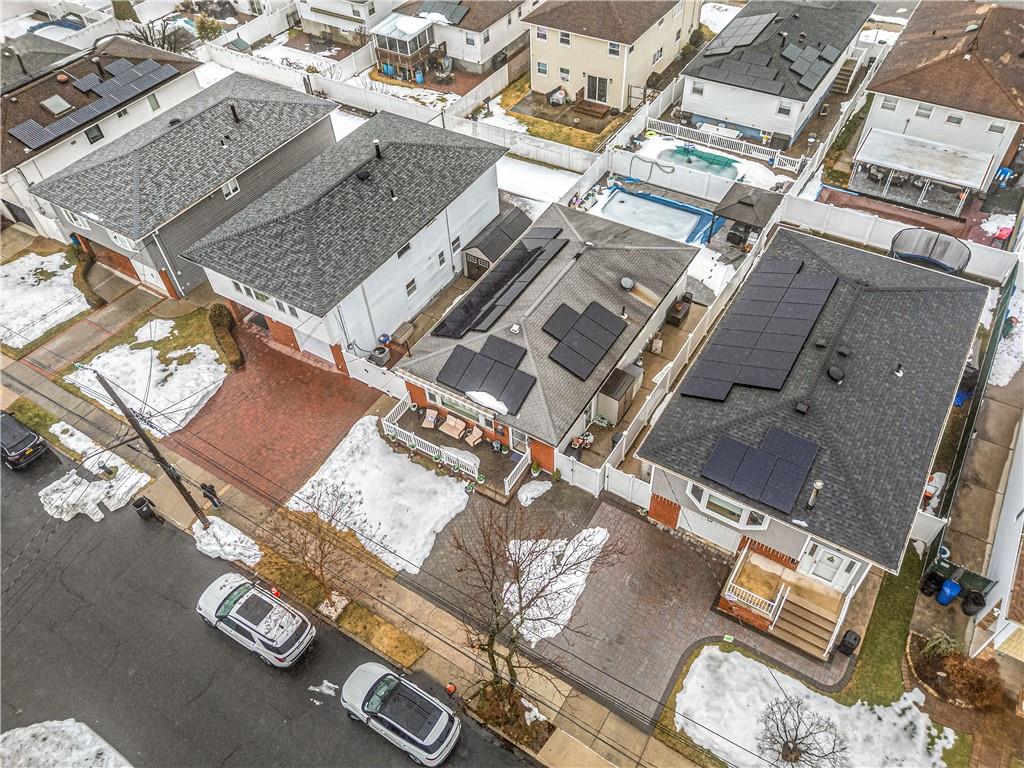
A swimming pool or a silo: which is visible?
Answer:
swimming pool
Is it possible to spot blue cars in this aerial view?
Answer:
No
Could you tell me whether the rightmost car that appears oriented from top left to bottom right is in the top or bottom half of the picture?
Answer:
bottom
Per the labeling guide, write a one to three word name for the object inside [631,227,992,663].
house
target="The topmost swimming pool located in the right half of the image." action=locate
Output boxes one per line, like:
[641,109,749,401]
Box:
[643,145,749,184]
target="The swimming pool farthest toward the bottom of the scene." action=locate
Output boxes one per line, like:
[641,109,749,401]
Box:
[593,182,735,248]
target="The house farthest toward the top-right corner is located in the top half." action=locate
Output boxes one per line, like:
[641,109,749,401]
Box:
[857,0,1024,164]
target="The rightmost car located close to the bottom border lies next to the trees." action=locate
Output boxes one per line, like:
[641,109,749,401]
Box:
[335,658,467,768]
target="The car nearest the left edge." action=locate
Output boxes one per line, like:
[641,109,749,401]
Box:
[0,400,47,468]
